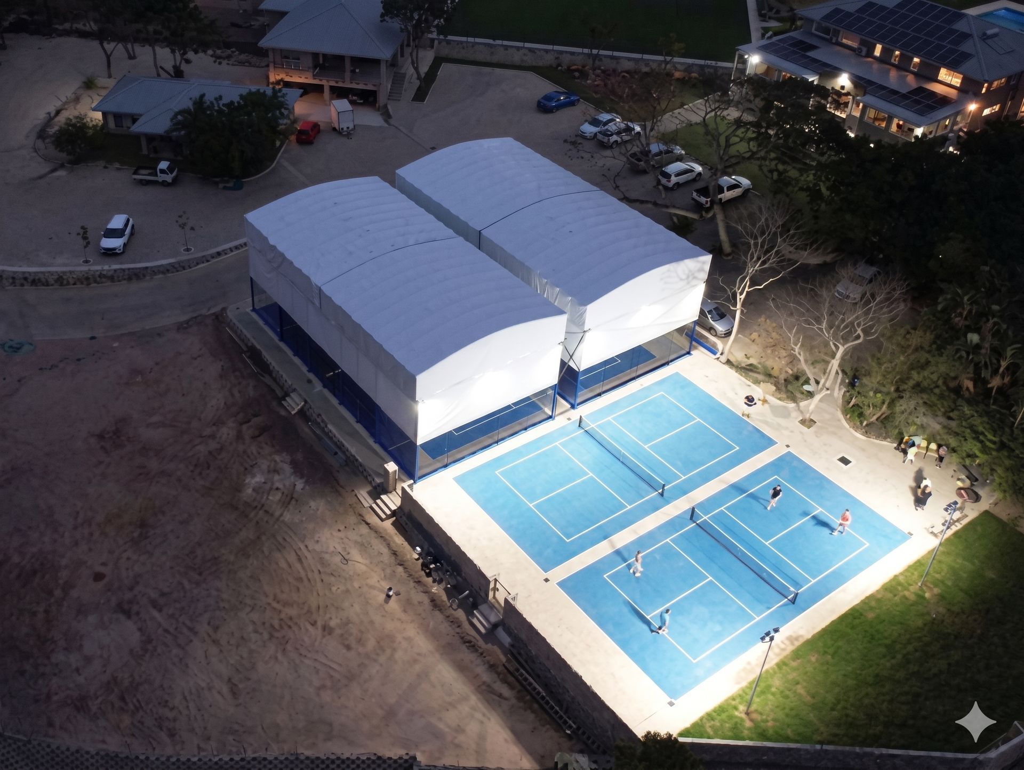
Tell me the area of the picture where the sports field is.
top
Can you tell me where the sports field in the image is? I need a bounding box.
[437,0,759,64]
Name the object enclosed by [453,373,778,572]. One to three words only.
sports court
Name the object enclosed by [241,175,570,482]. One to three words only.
tent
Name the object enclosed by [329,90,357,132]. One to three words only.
trailer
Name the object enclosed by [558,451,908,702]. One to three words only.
sports court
